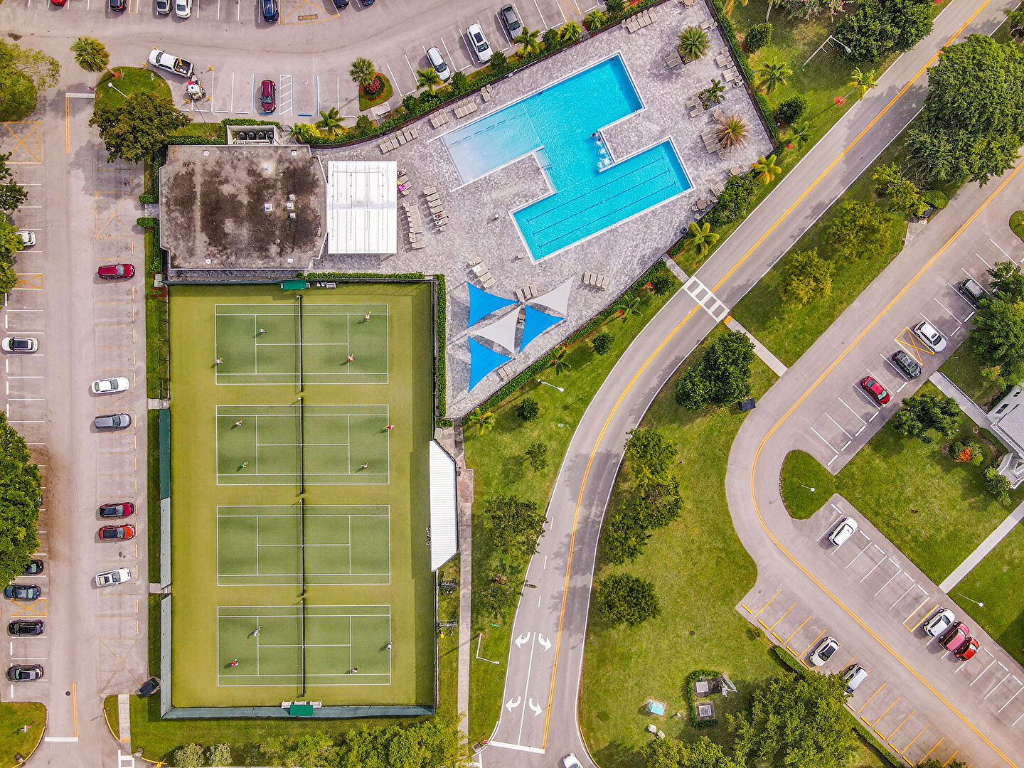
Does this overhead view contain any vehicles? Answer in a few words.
Yes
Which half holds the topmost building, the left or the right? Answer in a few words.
left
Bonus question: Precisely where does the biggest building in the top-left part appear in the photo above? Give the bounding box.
[159,145,328,271]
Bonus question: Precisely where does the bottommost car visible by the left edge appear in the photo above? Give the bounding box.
[6,664,45,683]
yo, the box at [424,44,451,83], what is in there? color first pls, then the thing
white car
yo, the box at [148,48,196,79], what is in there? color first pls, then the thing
white truck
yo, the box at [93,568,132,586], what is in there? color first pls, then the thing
white vehicle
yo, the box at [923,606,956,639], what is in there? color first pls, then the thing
white car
